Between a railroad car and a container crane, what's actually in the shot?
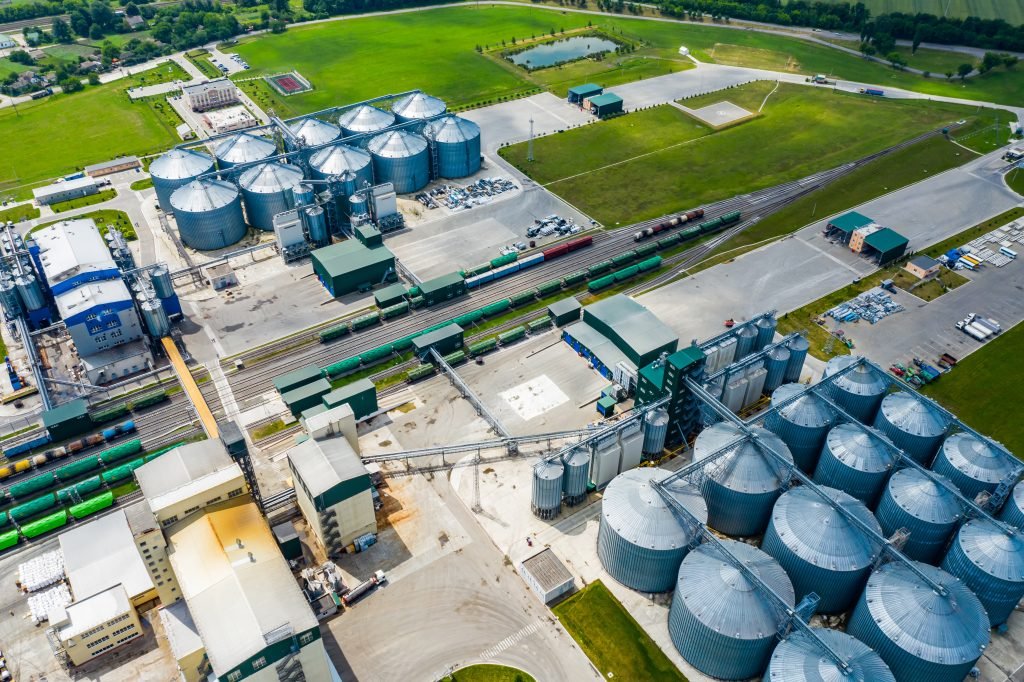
railroad car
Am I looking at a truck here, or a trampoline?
truck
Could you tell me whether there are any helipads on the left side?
No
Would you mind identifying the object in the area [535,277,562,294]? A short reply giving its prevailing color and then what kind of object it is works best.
green rail car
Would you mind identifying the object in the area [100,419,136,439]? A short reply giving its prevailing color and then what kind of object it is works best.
blue rail car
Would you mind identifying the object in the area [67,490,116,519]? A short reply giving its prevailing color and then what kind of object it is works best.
green rail car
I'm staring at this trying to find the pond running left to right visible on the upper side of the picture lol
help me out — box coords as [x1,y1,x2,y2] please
[513,36,618,69]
